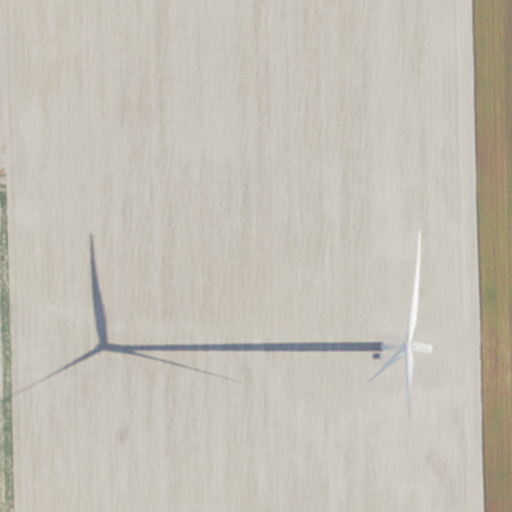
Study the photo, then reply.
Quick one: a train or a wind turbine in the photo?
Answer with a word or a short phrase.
wind turbine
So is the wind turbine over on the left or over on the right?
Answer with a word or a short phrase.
right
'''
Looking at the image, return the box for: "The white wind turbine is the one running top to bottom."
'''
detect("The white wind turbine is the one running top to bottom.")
[370,230,431,420]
